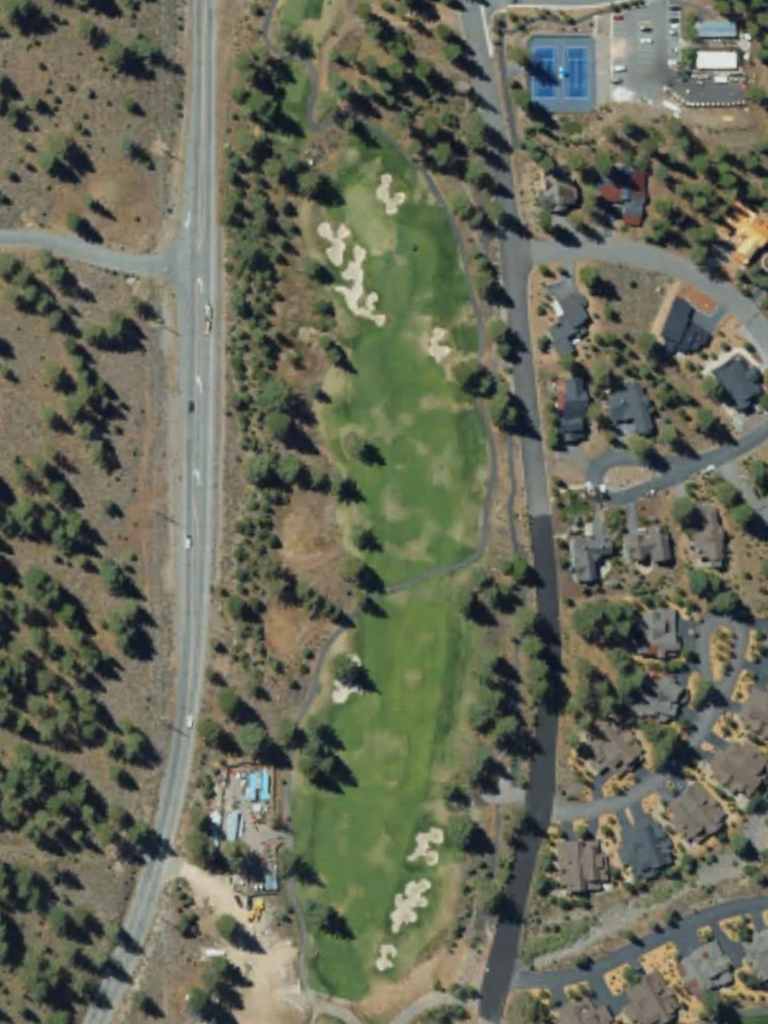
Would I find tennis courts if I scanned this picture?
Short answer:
Yes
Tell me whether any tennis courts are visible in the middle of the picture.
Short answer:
No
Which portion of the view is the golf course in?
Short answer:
center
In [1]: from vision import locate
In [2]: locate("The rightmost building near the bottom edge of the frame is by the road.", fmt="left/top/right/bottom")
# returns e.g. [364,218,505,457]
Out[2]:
[736,935,768,984]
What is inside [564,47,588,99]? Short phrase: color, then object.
blue tennis court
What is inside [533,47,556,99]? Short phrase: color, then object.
blue tennis court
